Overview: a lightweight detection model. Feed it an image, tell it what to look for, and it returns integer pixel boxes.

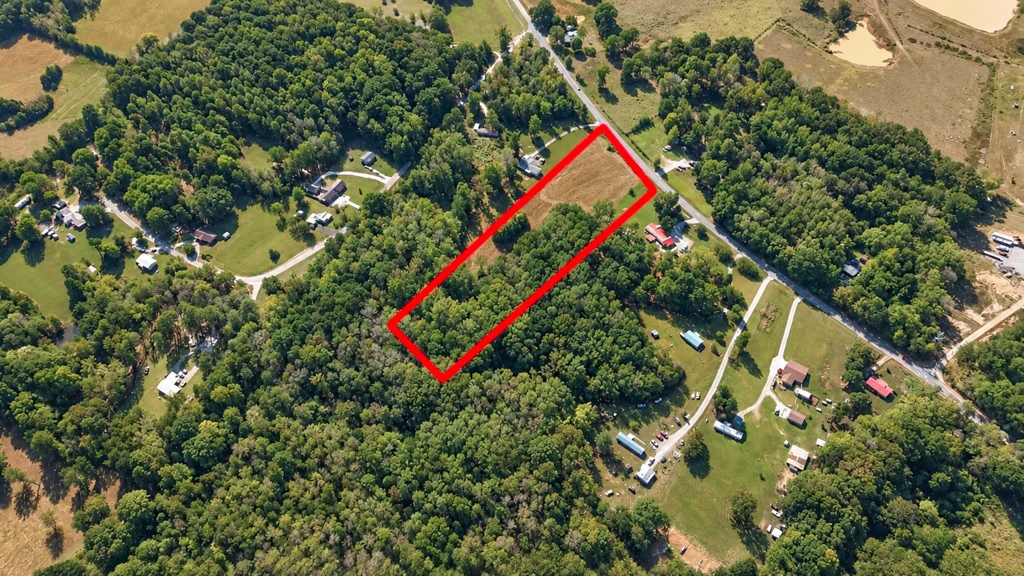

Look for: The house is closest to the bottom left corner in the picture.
[159,374,184,396]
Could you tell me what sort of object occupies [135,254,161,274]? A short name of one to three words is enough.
barn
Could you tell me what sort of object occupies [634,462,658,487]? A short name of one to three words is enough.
house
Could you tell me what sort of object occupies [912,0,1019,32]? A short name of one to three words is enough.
pond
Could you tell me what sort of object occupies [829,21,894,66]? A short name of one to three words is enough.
pond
